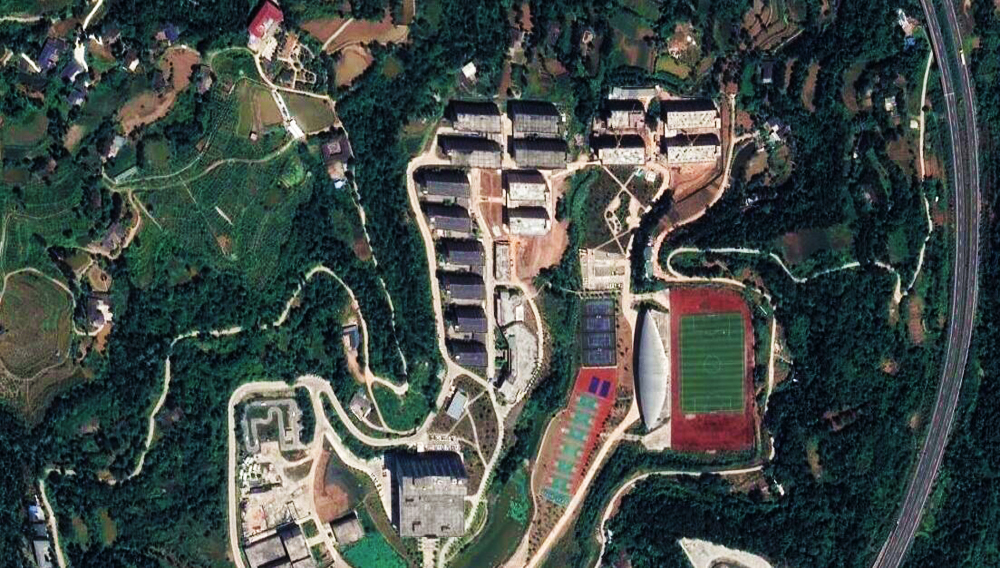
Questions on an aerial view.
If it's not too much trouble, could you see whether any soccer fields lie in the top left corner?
No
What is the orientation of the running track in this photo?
up and down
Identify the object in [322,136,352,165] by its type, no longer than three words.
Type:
house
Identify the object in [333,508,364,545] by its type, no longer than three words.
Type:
building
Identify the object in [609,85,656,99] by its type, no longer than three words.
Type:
shed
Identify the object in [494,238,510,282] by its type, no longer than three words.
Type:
building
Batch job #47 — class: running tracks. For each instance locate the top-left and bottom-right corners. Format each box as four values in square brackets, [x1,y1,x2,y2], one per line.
[670,288,755,453]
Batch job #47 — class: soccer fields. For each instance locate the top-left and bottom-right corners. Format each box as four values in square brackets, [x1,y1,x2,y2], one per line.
[680,312,744,414]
